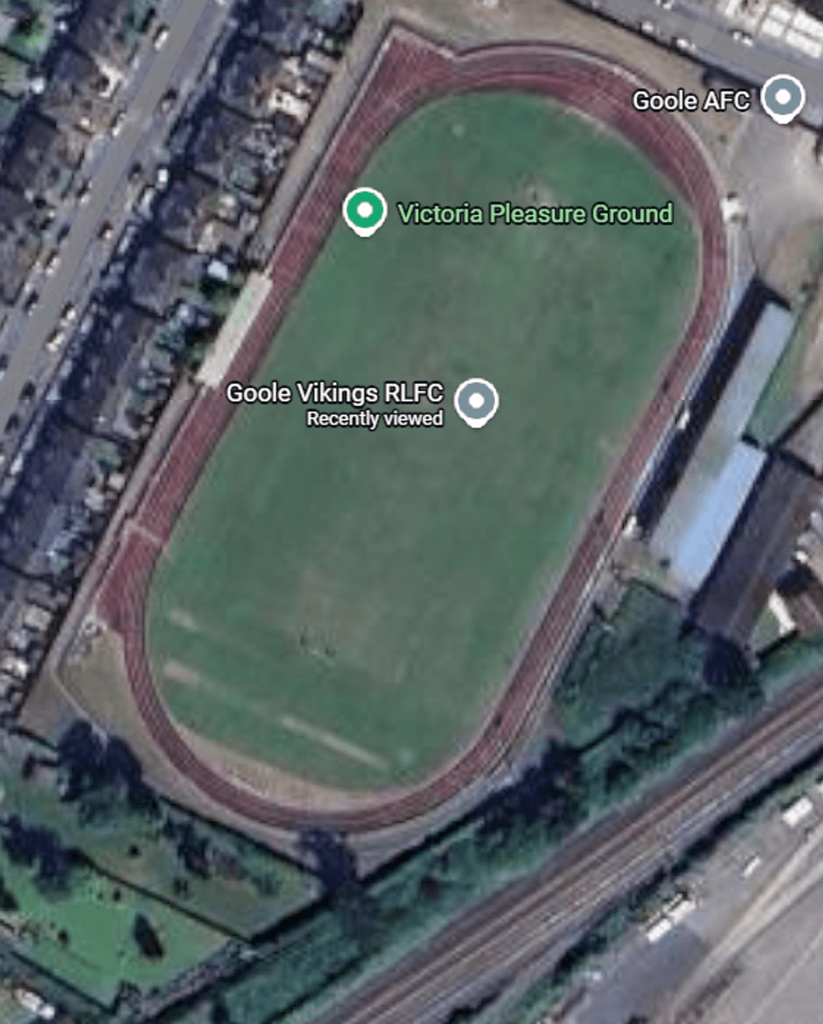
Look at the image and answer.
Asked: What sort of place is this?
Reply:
sports ground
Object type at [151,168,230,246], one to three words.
house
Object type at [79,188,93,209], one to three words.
car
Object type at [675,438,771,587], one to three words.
building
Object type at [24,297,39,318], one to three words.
car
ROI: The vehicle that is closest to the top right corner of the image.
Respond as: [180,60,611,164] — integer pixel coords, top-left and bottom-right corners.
[733,31,753,46]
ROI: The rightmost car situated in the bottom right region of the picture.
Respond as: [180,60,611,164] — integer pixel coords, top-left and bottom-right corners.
[744,856,761,876]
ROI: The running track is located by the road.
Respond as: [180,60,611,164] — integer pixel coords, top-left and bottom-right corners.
[94,31,727,832]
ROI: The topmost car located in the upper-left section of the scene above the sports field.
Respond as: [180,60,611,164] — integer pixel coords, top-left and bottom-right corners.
[153,29,168,50]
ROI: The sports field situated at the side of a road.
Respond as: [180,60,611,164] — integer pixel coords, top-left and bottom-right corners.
[145,89,704,814]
